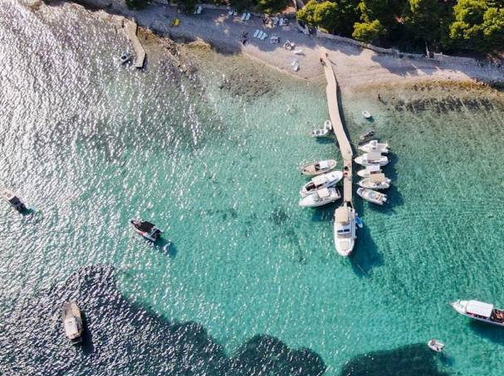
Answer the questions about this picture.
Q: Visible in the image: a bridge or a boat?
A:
boat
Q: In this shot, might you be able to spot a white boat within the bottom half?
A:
Yes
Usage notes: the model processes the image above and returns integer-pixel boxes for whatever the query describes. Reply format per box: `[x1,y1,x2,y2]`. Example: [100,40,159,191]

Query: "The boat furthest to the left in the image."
[0,186,33,214]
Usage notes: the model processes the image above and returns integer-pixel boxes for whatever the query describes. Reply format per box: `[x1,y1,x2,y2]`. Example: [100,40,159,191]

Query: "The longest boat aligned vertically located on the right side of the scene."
[333,196,357,256]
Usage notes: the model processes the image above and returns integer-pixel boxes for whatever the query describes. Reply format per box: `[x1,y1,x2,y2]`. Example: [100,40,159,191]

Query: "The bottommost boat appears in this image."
[428,338,446,352]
